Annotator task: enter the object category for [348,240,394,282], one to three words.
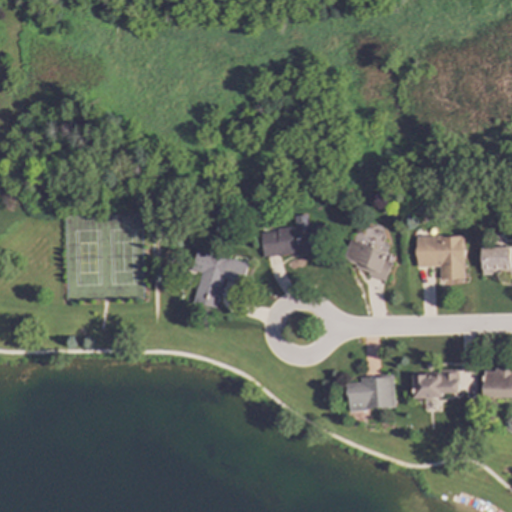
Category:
house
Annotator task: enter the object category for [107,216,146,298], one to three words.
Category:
tennis court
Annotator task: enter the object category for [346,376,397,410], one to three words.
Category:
house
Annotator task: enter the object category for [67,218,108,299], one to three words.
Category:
tennis court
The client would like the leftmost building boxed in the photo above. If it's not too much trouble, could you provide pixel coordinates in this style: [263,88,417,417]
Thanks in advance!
[194,253,248,311]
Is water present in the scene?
Yes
